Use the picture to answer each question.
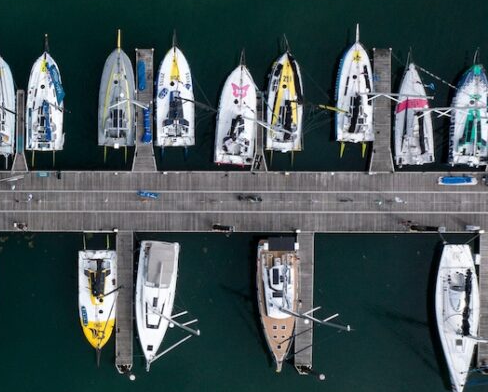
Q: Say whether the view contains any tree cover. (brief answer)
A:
No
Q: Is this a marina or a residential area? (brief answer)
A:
marina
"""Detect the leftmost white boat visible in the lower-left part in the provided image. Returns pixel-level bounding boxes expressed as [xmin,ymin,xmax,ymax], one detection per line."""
[76,233,124,367]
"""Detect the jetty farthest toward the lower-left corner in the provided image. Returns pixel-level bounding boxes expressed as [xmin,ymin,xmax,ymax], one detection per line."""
[114,231,135,374]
